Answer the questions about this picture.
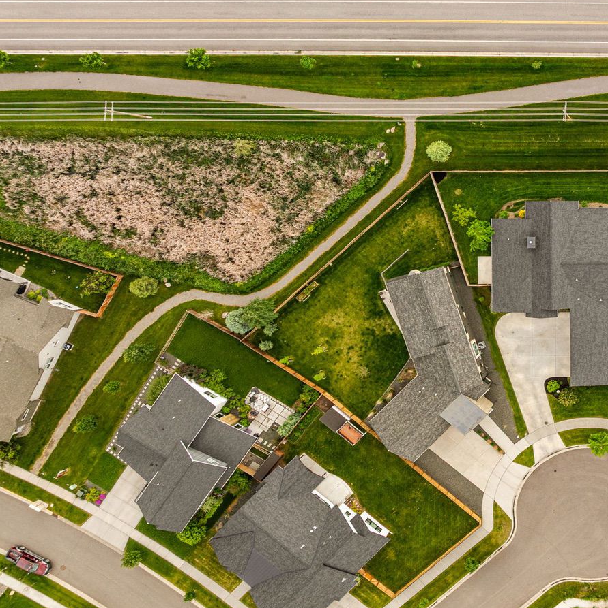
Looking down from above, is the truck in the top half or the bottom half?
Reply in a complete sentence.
The truck is in the bottom half of the image.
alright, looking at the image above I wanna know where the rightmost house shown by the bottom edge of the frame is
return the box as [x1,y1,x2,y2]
[210,456,395,608]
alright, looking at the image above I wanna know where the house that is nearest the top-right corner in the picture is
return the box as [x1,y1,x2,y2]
[492,201,608,386]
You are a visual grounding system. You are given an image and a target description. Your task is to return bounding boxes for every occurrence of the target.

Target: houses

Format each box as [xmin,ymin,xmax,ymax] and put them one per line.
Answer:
[210,456,395,608]
[369,266,493,463]
[0,267,91,441]
[116,373,258,532]
[492,201,608,386]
